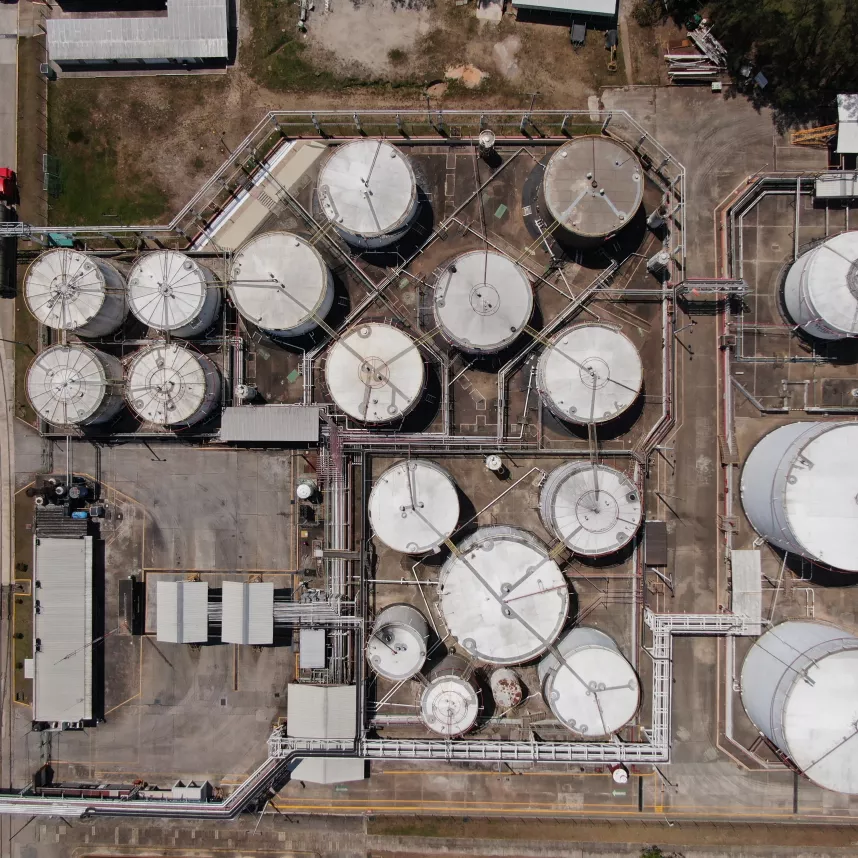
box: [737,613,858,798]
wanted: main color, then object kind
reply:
white storage tank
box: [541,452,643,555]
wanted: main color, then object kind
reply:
white storage tank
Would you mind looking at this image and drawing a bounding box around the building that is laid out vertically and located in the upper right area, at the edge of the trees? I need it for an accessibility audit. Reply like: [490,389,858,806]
[829,93,858,158]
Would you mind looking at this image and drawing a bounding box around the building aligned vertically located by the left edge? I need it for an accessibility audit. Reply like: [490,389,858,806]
[24,535,97,722]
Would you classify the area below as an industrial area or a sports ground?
industrial area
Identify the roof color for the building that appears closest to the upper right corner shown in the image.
white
